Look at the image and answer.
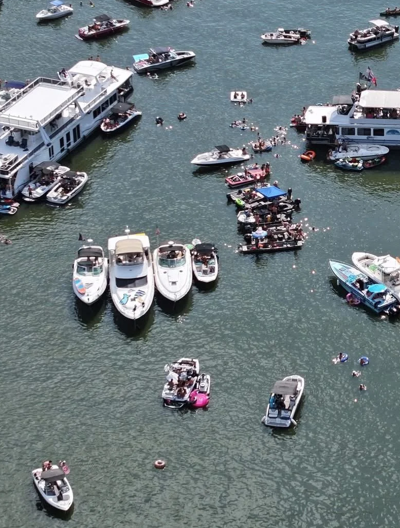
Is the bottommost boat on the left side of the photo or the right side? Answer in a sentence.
The bottommost boat sits on the left side.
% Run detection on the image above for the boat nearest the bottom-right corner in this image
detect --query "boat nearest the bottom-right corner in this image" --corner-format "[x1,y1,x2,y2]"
[264,378,302,432]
